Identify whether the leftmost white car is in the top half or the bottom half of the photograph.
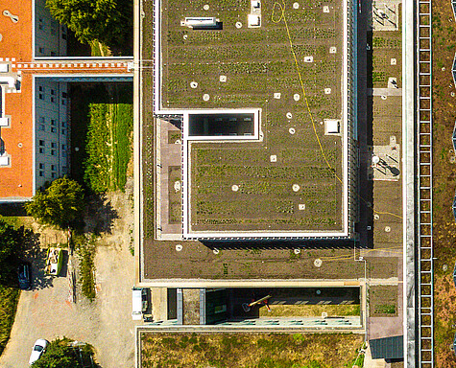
bottom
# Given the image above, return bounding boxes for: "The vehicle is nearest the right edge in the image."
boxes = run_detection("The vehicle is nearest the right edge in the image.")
[130,289,145,322]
